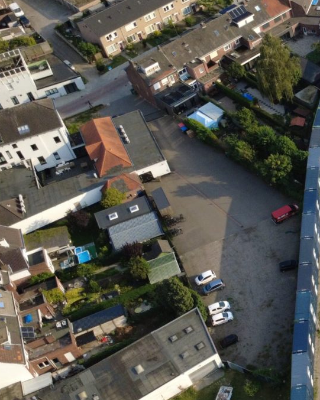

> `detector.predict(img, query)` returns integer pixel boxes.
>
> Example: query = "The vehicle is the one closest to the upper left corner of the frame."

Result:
[9,2,23,16]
